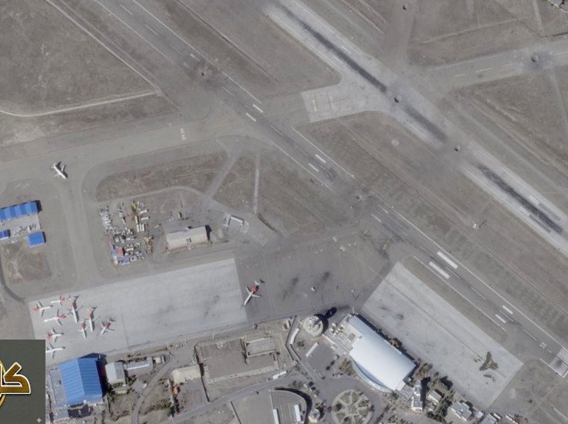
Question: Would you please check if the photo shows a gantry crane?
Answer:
No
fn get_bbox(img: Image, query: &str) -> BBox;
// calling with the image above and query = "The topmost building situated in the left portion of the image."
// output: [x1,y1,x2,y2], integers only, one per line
[0,203,40,222]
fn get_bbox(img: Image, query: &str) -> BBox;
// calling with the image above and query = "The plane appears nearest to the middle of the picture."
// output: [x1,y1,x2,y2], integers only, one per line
[244,282,260,306]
